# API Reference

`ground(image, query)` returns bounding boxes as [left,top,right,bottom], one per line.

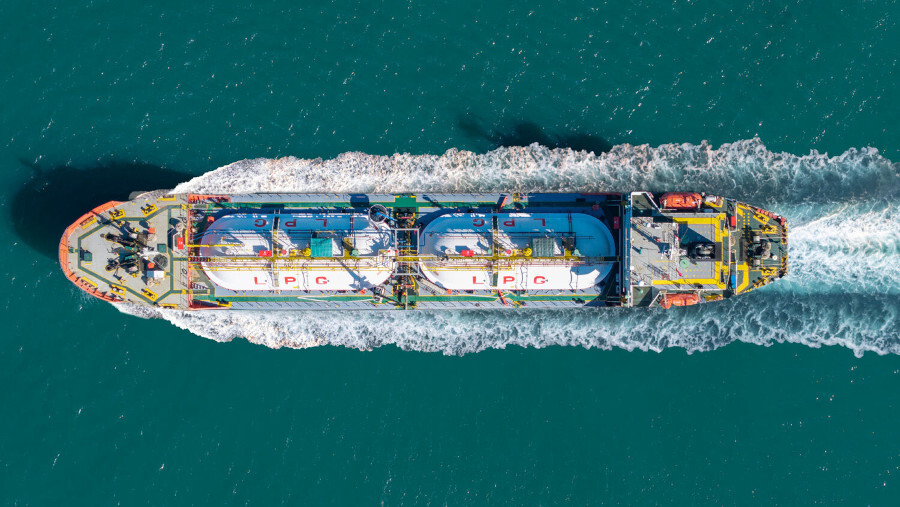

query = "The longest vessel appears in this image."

[59,192,789,310]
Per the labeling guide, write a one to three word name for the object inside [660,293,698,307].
boat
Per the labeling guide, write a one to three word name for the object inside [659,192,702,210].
boat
